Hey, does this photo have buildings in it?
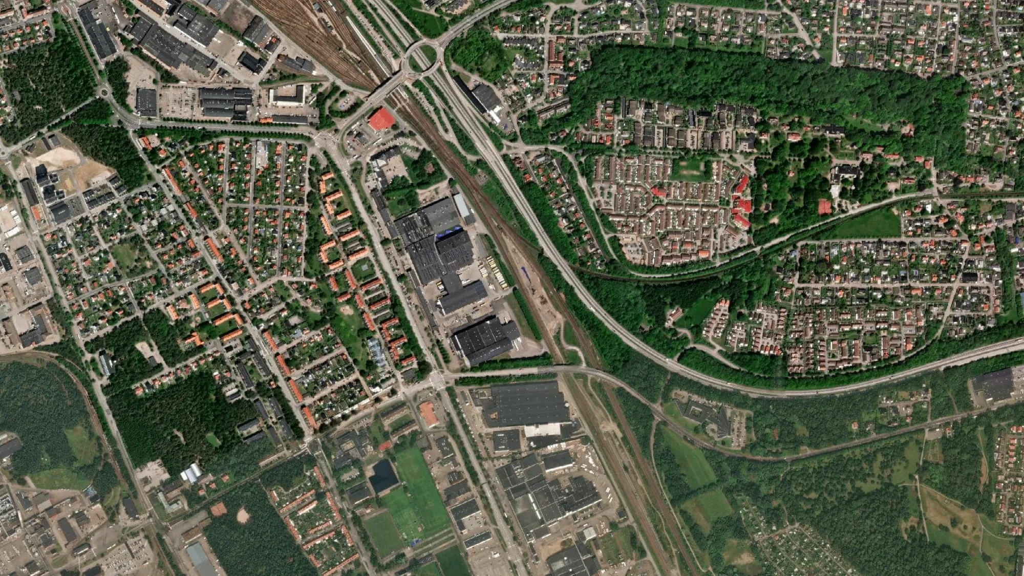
Yes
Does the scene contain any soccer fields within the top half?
No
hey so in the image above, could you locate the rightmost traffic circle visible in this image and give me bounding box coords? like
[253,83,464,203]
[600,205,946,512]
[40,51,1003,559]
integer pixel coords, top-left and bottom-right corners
[402,40,444,80]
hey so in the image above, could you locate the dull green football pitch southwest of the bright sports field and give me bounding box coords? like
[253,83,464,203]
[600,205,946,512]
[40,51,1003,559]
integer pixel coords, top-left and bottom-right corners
[365,510,403,558]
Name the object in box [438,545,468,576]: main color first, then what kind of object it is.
green soccer field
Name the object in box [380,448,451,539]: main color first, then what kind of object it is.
green sports field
